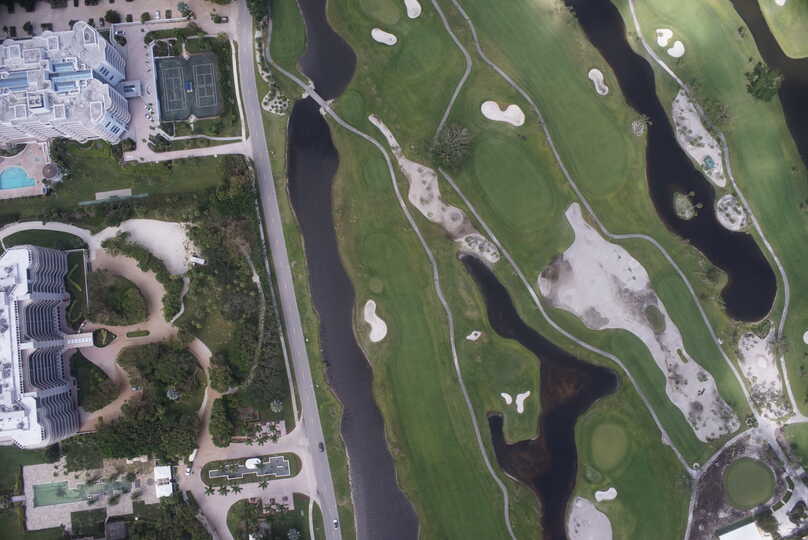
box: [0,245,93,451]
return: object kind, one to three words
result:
building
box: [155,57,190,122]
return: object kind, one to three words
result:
tennis court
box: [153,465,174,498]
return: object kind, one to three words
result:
building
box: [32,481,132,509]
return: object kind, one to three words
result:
swimming pool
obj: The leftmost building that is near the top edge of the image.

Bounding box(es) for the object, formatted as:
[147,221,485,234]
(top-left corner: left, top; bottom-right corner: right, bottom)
[0,21,128,142]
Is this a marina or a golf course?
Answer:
golf course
